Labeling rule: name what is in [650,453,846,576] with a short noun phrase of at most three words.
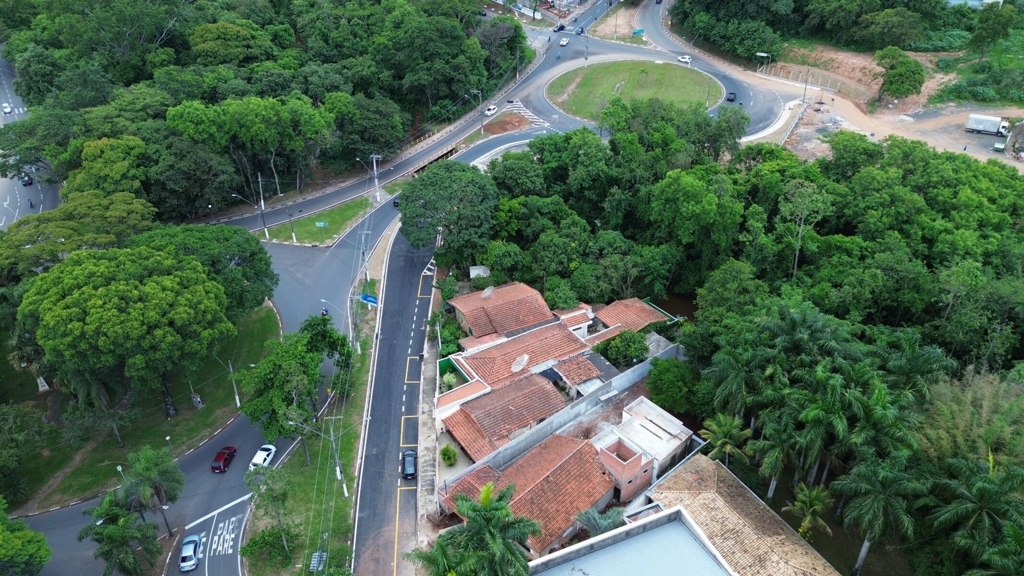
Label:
house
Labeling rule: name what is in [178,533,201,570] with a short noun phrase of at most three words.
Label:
car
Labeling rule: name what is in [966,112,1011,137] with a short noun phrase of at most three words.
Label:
truck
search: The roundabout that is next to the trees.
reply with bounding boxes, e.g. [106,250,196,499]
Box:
[441,0,802,162]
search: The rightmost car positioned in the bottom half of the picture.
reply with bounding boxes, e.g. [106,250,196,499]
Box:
[401,451,417,478]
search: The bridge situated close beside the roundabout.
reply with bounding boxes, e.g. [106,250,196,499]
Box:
[397,126,482,173]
